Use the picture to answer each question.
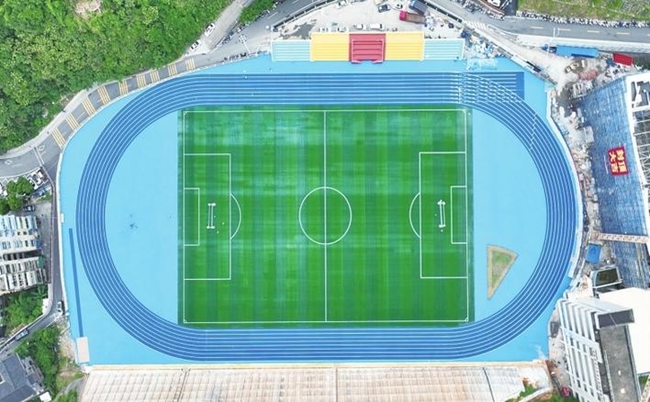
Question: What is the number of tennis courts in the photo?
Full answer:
The photo contains no tennis courts.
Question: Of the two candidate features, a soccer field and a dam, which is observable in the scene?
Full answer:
Visible in the photo is a soccer field.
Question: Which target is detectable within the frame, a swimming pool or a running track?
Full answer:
The one in the frame is a running track.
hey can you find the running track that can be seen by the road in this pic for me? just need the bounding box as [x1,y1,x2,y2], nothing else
[63,50,578,363]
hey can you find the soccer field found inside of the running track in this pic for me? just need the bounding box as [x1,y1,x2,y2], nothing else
[178,105,474,328]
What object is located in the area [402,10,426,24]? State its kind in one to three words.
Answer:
vehicle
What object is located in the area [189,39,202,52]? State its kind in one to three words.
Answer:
vehicle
